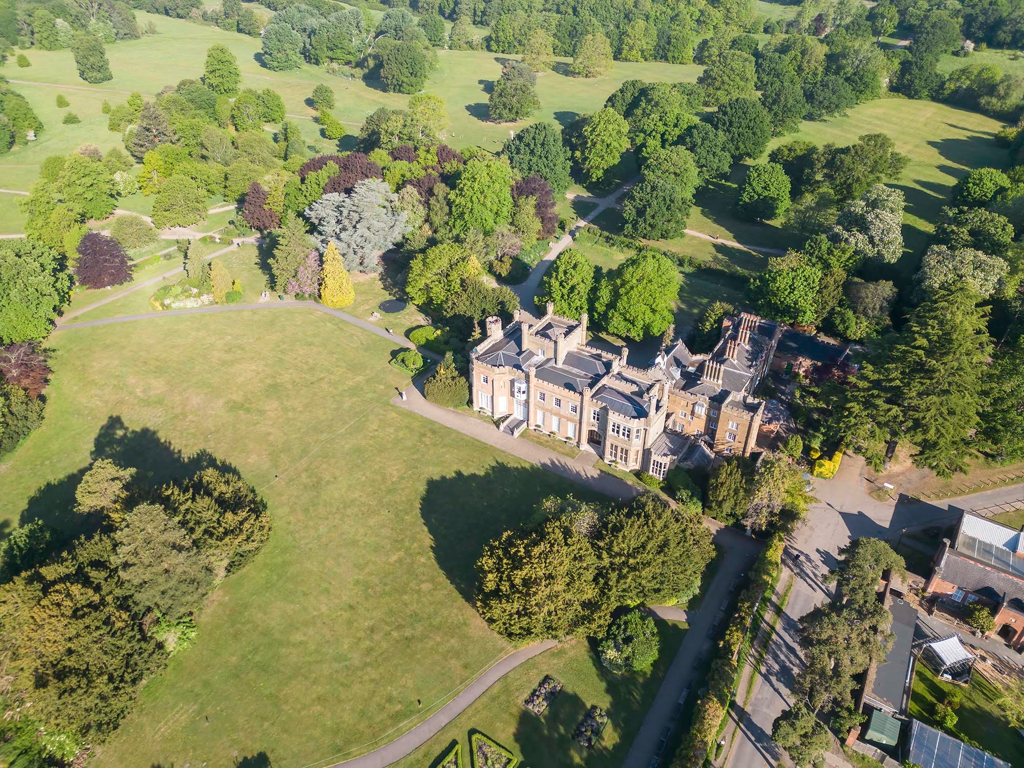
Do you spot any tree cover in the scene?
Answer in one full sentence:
Yes, there's tree cover in this view.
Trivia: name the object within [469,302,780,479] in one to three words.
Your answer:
house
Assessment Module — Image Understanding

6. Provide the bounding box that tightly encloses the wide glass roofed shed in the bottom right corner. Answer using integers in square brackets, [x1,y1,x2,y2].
[902,719,1020,768]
